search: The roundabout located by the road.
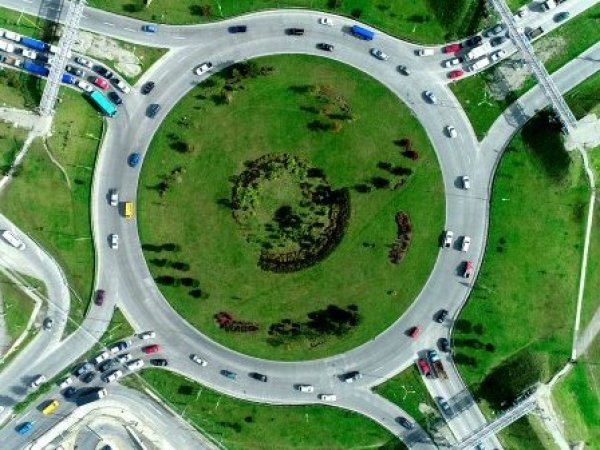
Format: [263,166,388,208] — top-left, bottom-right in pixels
[95,11,488,402]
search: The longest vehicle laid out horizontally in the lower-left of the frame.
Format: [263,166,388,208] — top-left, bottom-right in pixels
[72,388,108,405]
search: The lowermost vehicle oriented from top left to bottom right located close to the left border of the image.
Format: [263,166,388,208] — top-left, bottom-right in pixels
[1,231,25,251]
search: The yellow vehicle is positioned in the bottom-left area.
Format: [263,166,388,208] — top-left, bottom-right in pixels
[43,401,59,414]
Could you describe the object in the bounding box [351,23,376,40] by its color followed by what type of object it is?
blue vehicle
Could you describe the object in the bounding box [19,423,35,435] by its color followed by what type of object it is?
blue vehicle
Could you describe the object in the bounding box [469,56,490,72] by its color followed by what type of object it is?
white vehicle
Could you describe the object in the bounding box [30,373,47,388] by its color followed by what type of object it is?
white vehicle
